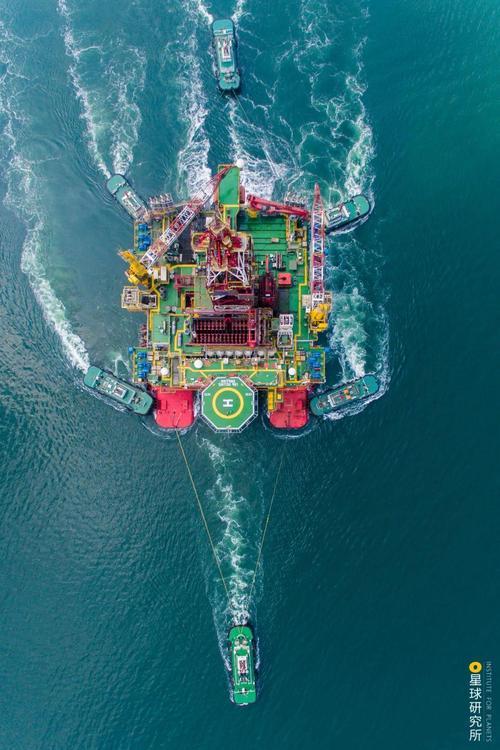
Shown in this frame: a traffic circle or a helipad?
helipad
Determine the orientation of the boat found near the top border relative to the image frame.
up and down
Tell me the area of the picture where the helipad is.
center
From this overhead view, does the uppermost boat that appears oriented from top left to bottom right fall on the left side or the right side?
left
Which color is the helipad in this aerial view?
green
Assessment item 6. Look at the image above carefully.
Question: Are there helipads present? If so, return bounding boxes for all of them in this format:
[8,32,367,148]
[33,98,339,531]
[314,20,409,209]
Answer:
[199,374,259,434]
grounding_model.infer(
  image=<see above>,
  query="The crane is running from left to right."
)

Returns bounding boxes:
[246,196,312,221]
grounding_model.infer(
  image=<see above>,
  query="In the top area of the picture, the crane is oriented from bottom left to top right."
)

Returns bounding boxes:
[123,165,230,305]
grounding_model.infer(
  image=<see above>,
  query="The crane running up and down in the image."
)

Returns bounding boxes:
[305,182,333,337]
